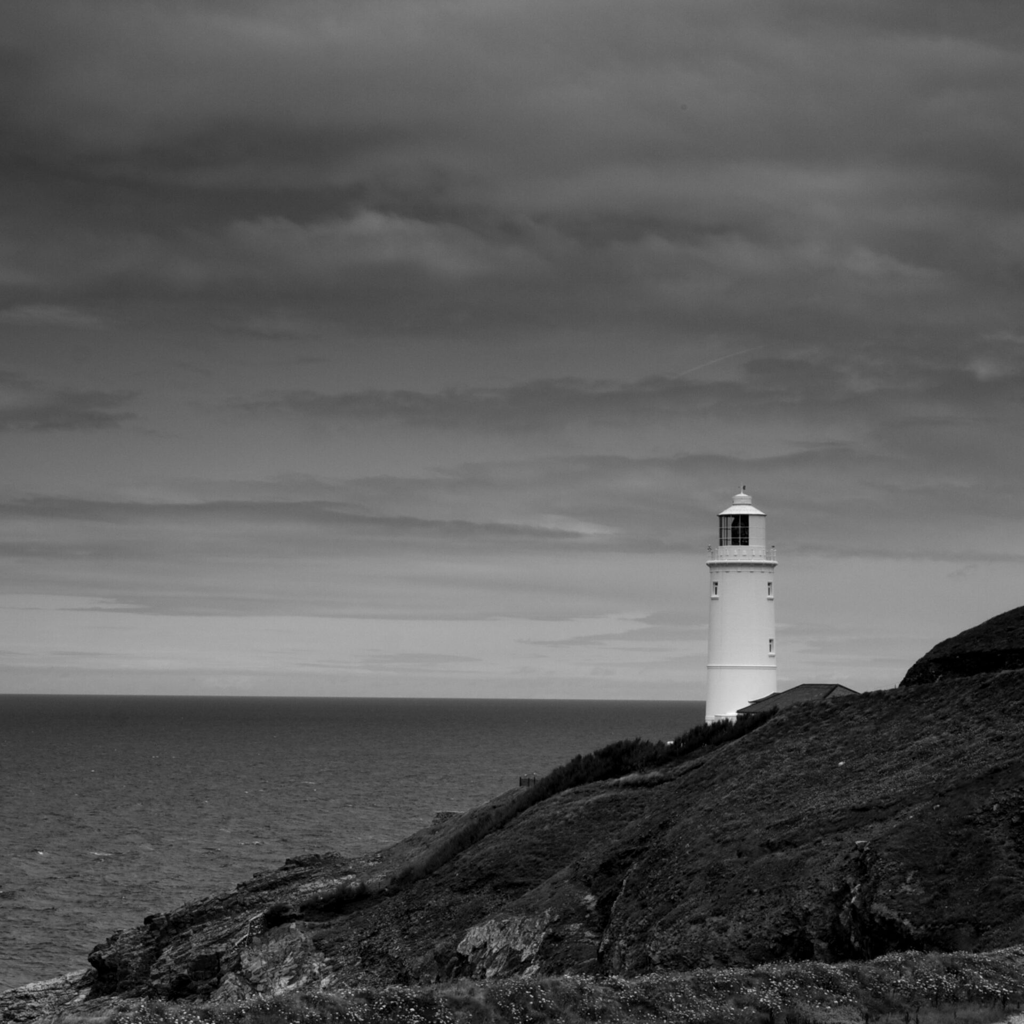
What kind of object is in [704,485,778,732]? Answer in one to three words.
lighthouse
